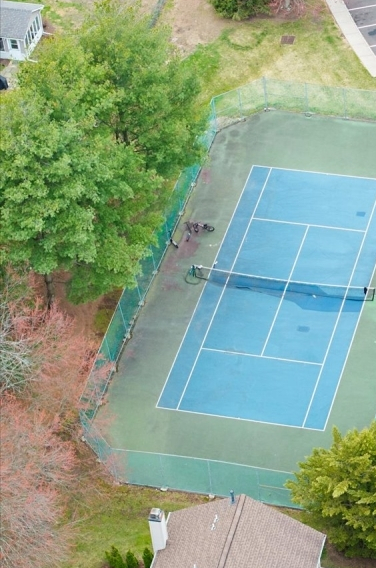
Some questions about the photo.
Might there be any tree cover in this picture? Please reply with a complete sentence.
Yes, there's tree cover in this view.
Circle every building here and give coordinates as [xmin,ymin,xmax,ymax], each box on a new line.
[0,4,43,58]
[148,493,327,568]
